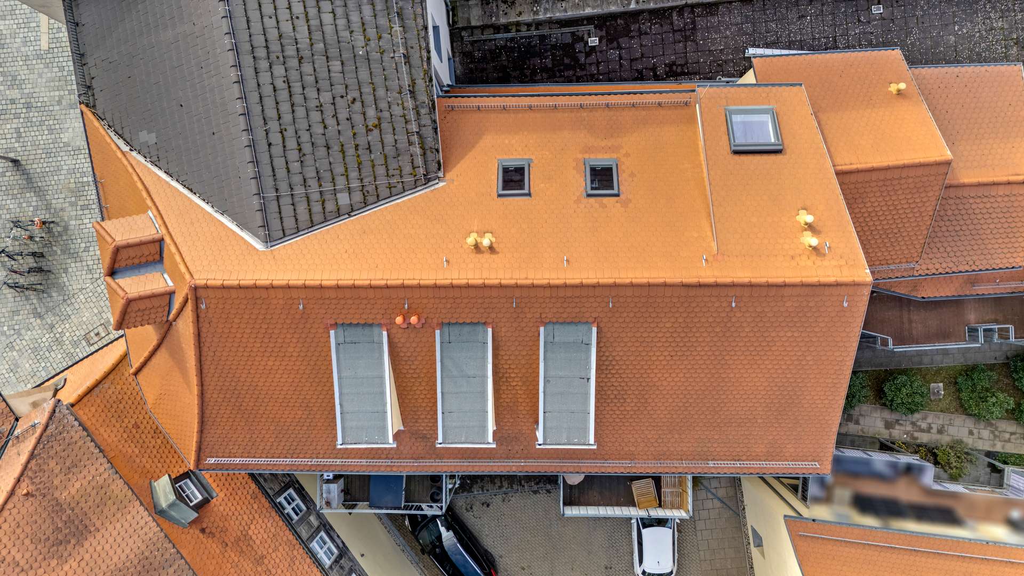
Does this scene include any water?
No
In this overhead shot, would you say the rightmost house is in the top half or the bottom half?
top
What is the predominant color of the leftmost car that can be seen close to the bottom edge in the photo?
black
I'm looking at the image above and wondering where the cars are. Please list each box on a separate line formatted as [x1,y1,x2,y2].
[625,511,683,576]
[405,499,496,576]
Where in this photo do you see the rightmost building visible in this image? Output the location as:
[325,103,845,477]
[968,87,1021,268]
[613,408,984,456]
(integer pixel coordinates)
[909,59,1024,279]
